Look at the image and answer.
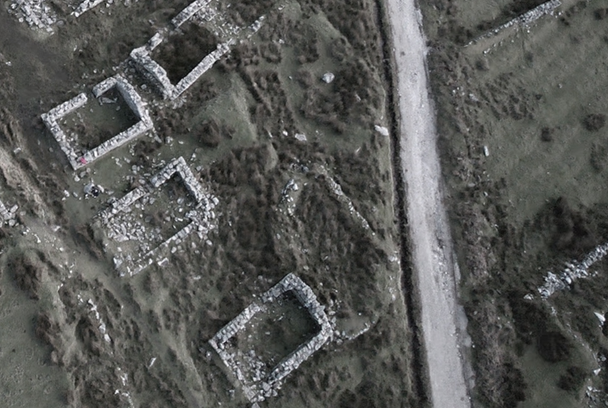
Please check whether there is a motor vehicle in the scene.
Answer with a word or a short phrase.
No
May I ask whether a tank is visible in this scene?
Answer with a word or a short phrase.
No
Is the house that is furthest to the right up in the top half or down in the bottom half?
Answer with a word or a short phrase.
bottom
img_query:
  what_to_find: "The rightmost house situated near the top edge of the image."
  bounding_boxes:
[124,0,267,107]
